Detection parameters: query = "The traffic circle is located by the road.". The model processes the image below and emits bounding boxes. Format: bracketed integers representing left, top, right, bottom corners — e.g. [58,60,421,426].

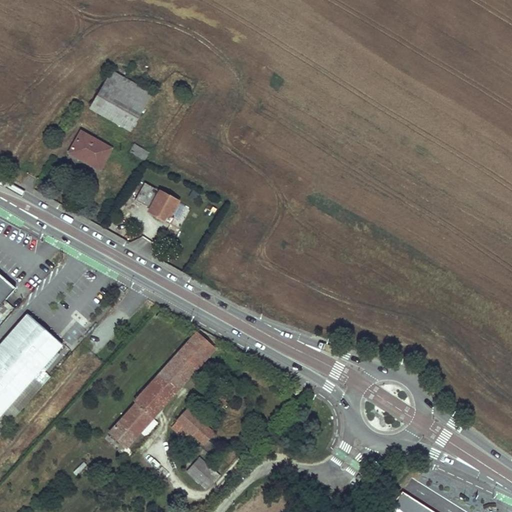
[360,380,416,435]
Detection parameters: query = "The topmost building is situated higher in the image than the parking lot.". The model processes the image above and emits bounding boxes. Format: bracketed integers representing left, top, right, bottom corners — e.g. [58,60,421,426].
[90,72,152,132]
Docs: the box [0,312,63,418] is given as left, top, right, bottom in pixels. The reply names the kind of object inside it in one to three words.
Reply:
building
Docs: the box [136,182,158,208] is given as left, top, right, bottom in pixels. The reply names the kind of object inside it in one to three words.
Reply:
building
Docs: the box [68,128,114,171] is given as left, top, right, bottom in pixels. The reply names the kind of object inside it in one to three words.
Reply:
house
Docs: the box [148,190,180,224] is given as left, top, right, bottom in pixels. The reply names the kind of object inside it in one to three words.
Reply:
house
